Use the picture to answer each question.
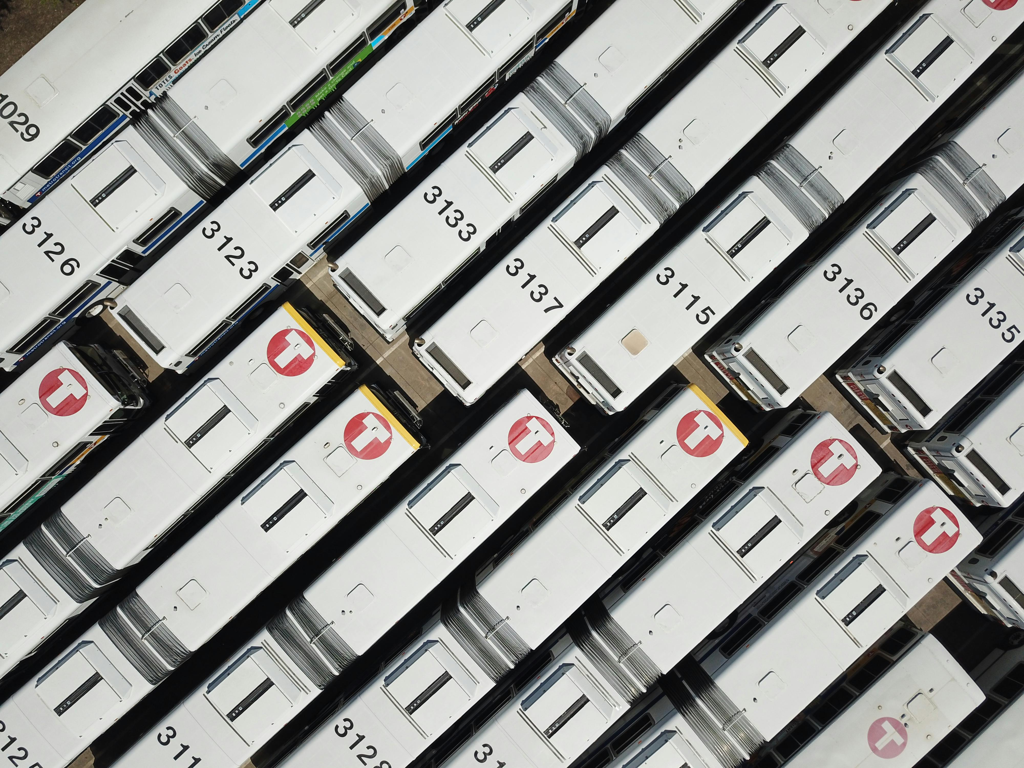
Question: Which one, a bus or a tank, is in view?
bus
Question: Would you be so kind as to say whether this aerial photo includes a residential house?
No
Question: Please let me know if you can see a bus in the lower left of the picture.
Yes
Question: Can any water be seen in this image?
No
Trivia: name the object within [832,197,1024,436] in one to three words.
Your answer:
bus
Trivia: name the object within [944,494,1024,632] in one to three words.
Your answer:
bus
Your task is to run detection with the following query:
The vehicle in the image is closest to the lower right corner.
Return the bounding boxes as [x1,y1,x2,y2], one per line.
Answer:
[907,627,1024,768]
